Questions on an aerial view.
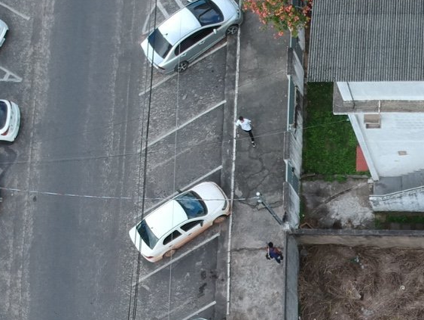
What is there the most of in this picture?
paved ground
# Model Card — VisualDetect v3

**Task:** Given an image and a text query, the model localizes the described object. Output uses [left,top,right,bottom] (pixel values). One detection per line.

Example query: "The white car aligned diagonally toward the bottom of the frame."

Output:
[127,181,233,262]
